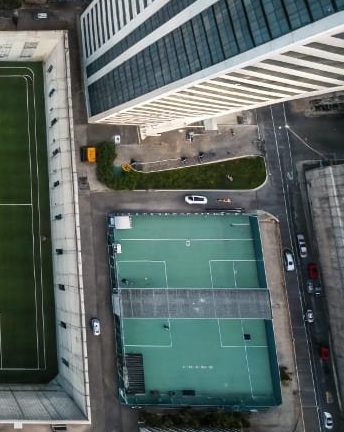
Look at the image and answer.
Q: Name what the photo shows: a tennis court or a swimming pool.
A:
tennis court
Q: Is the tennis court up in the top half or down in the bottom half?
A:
bottom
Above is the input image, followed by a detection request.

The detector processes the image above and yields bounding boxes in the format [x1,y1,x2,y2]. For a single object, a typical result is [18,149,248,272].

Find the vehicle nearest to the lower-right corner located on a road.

[322,411,335,430]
